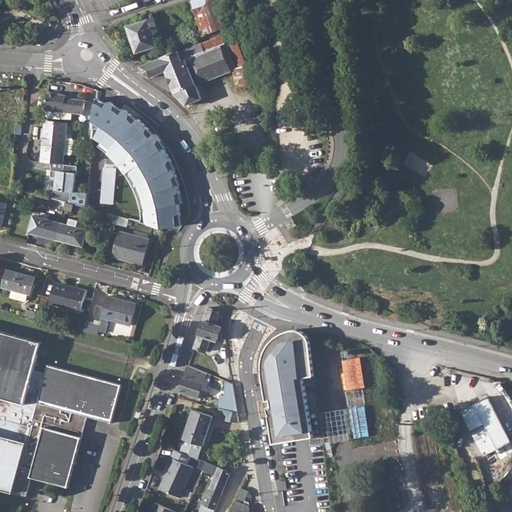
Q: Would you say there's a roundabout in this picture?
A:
Yes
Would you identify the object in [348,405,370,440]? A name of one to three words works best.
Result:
greenhouse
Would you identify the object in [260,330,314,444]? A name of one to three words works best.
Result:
building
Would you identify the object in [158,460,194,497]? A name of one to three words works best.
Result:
house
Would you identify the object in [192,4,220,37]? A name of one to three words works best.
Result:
shed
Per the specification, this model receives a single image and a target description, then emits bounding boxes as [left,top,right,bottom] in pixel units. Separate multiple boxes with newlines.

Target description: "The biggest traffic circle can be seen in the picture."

[179,213,259,293]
